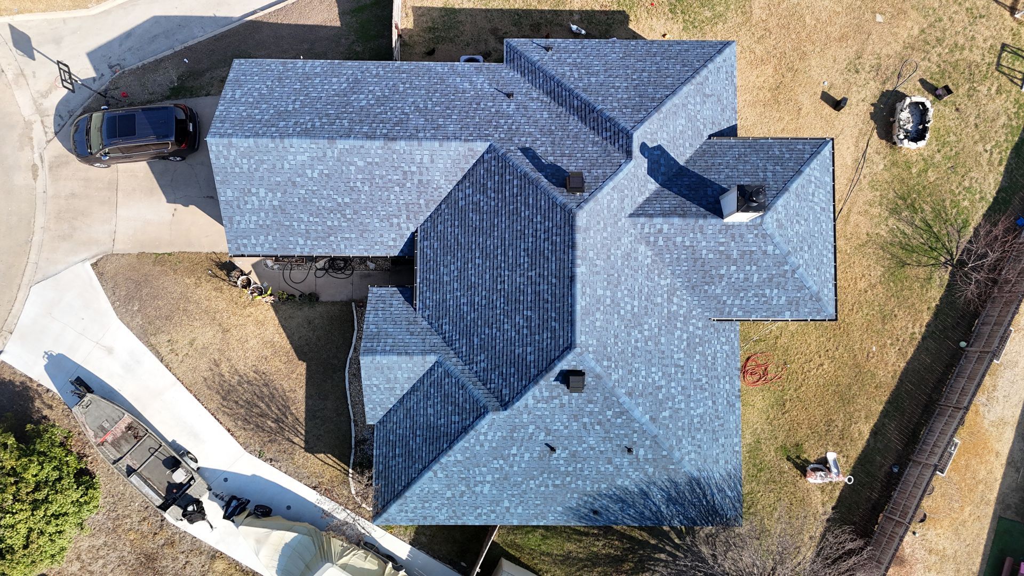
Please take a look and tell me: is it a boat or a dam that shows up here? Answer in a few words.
boat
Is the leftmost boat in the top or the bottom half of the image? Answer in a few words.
bottom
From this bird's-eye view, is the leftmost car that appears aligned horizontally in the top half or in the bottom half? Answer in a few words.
top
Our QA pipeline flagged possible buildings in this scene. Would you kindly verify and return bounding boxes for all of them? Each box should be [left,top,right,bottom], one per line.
[205,39,840,529]
[483,543,558,576]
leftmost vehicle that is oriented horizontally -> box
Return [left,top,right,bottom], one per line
[73,102,204,166]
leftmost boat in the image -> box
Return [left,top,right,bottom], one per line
[66,380,218,529]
